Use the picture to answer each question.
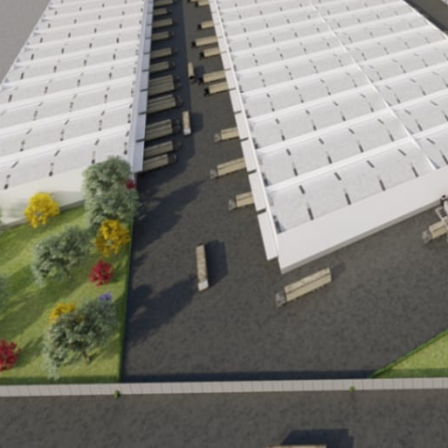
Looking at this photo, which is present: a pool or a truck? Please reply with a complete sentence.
Looking from above, you can make out a truck.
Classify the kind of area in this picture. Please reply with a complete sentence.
The area seen from above is an industrial area.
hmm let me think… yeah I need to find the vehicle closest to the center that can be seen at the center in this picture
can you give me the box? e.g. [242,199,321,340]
[227,190,252,212]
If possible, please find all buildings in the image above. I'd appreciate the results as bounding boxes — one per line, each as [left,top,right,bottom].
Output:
[0,0,155,231]
[208,0,448,273]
